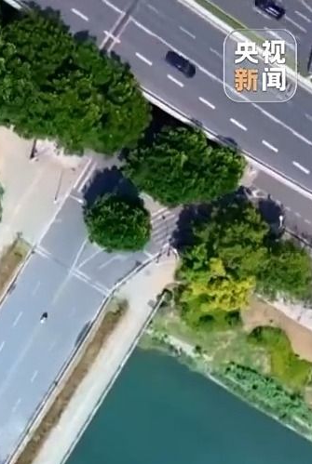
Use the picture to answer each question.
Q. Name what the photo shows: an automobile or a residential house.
automobile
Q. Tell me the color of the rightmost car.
black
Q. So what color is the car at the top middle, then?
black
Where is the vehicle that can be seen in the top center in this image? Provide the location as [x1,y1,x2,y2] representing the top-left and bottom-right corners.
[162,50,197,79]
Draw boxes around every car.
[250,0,286,23]
[162,50,197,79]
